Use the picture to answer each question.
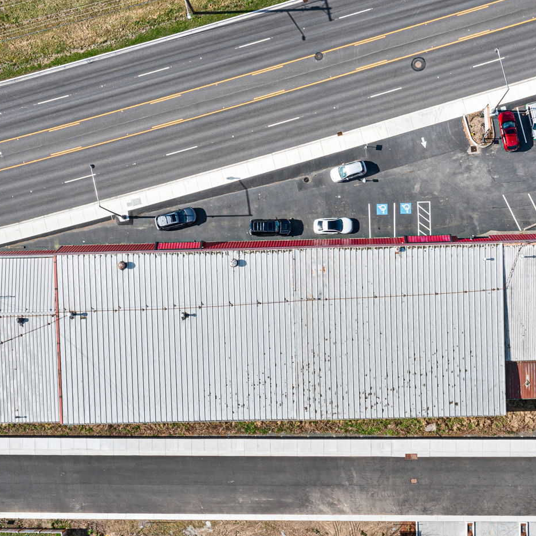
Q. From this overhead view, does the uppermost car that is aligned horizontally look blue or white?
white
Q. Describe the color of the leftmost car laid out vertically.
red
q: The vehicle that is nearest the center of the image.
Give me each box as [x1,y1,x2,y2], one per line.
[249,218,290,236]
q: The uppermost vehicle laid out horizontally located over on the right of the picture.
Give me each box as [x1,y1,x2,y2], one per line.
[330,159,366,181]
